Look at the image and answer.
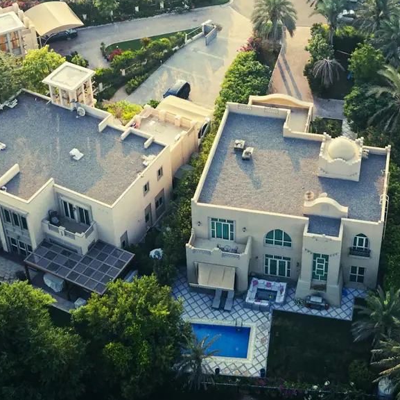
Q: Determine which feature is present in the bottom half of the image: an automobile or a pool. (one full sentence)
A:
You can see a pool in the bottom half of the image.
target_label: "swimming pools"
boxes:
[180,313,256,364]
